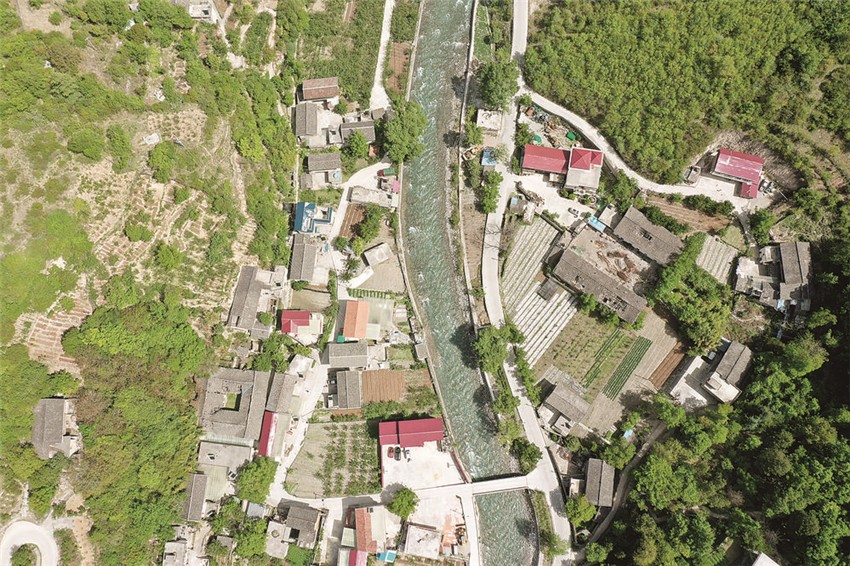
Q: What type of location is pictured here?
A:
residential area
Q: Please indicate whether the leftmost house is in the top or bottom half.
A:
bottom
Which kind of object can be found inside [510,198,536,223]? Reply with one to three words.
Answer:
shed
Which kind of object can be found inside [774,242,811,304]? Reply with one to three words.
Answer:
house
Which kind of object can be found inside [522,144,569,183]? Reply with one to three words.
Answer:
building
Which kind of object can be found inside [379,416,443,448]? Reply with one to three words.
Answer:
barn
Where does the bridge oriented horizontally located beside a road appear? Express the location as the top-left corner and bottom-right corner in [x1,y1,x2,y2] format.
[470,475,530,495]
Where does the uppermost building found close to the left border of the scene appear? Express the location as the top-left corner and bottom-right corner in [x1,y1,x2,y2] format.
[31,398,84,458]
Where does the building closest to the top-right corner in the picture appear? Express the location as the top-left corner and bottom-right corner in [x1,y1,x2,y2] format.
[709,148,765,198]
